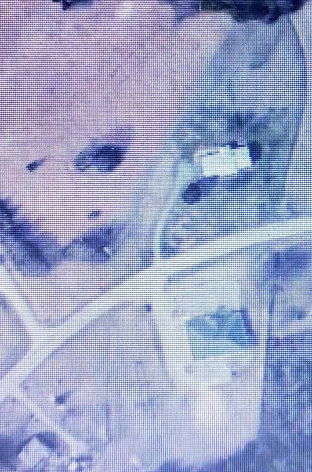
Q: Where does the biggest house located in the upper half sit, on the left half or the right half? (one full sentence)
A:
It is on the right.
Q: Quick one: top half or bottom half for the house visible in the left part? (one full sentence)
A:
You can find the house visible in the left part in the bottom half.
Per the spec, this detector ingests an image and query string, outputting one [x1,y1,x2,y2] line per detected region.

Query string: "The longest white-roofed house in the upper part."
[199,147,254,176]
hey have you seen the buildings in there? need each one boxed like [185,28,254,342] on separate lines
[186,311,253,361]
[199,147,254,176]
[19,437,51,470]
